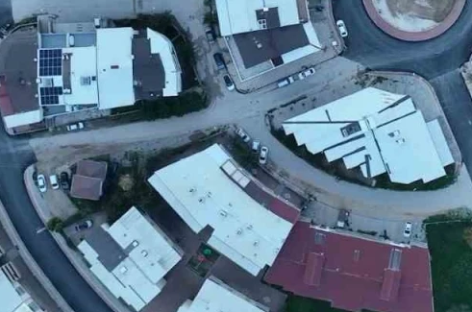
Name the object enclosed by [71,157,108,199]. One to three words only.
shed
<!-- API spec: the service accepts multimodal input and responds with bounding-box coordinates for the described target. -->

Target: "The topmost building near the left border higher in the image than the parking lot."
[0,22,185,128]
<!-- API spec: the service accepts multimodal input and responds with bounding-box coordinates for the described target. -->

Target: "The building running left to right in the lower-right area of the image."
[264,215,434,312]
